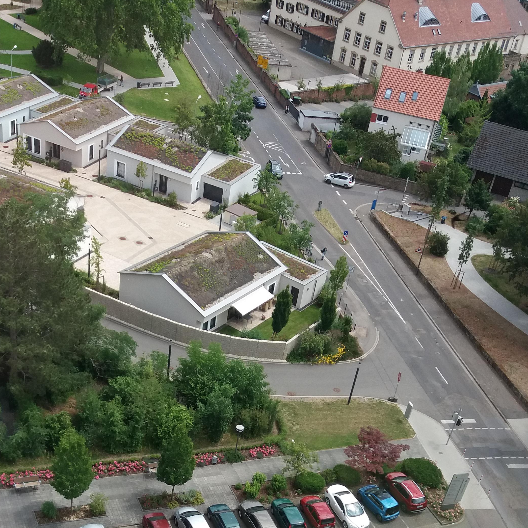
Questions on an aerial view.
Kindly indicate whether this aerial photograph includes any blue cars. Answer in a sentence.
Yes, looking at the shot, I can spot a blue car.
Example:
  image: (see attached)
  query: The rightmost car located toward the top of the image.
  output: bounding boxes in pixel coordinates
[324,172,357,191]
